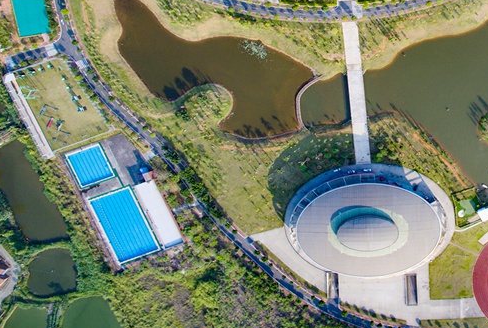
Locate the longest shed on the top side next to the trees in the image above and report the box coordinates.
[4,76,57,159]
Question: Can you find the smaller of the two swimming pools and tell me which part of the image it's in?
left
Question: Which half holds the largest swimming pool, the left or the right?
left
